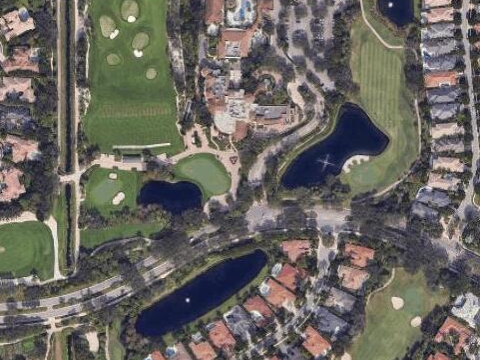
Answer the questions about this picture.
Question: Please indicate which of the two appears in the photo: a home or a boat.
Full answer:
Of the two, only a home appears.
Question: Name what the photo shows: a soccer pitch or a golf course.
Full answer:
Of the two, only a golf course appears.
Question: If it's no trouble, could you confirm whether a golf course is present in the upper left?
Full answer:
No, in the upper left there is no golf course.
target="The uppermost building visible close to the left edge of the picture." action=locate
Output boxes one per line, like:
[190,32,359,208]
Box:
[0,9,35,42]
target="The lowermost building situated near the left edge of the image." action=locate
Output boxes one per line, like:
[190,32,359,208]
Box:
[0,167,23,201]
